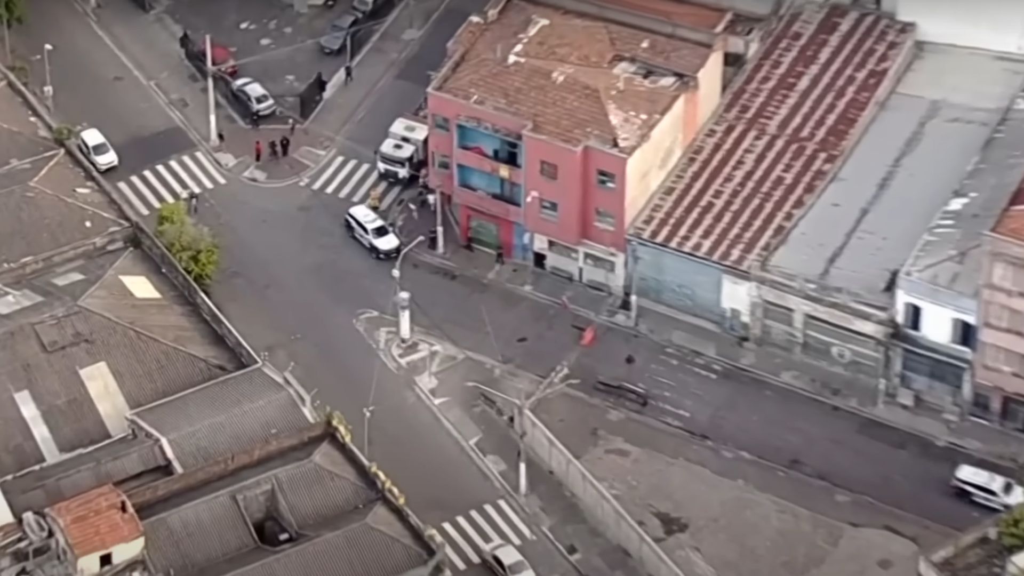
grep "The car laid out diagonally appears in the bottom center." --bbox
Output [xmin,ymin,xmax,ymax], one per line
[481,533,538,576]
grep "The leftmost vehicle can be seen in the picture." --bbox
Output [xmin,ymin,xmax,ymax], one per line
[77,129,120,173]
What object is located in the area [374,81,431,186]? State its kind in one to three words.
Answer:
truck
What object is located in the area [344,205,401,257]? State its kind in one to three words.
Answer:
car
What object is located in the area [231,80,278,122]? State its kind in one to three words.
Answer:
car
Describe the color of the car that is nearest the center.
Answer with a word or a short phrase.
white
